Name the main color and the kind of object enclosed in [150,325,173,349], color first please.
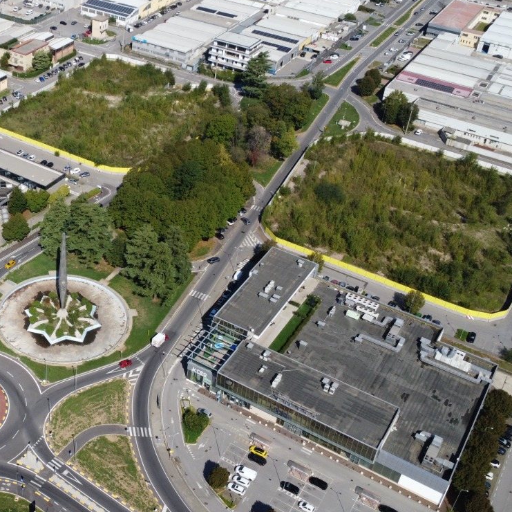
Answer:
white truck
